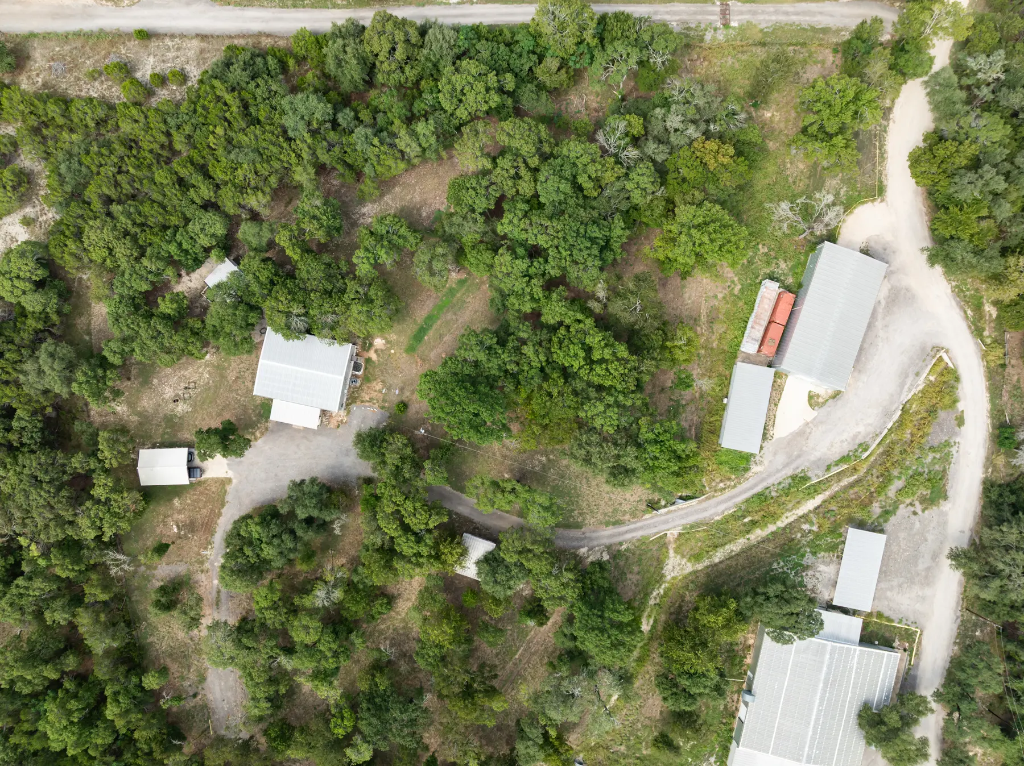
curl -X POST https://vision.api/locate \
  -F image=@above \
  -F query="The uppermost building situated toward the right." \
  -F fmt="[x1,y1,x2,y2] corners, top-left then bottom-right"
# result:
[771,242,888,390]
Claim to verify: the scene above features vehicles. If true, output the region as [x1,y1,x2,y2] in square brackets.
[187,468,201,479]
[187,452,193,463]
